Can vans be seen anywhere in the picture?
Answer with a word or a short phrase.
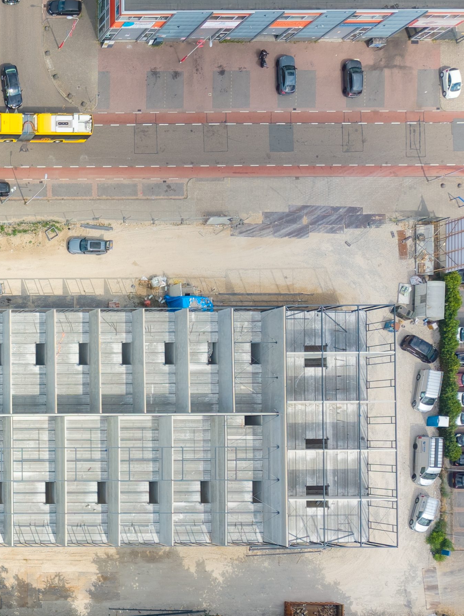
Yes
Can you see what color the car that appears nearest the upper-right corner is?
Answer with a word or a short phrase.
white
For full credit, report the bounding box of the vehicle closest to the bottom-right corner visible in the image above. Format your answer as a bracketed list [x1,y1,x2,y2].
[408,495,442,532]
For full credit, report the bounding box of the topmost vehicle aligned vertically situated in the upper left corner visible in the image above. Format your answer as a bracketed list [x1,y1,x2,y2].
[0,65,23,109]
